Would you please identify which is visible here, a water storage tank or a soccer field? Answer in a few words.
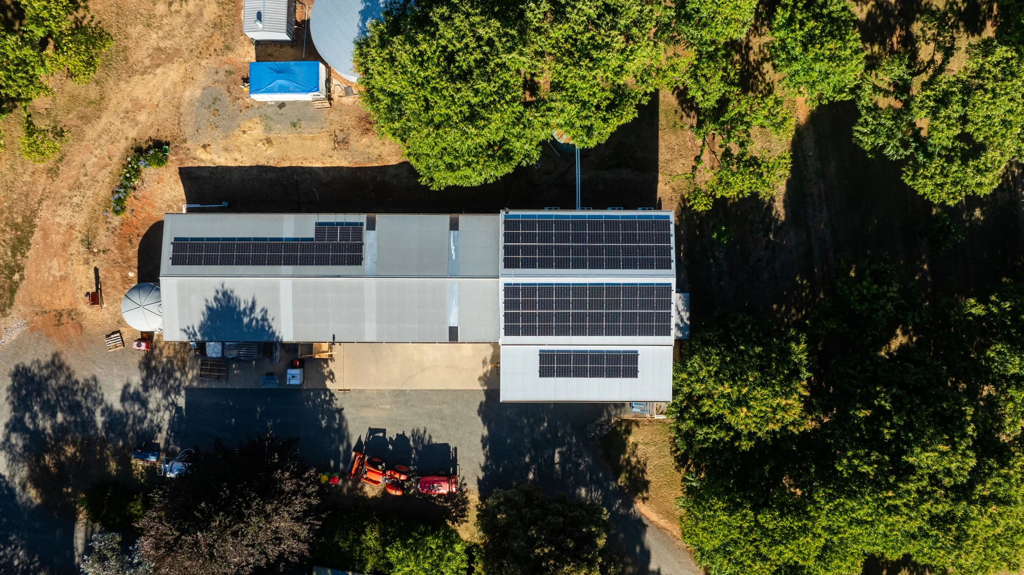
water storage tank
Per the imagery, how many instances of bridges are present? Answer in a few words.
none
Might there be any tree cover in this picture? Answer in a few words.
Yes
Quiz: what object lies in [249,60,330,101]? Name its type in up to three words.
building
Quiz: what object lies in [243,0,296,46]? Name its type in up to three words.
shed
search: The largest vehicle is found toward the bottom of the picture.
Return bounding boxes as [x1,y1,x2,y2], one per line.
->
[347,448,410,493]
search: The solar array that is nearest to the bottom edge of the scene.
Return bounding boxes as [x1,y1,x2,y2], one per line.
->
[537,354,640,378]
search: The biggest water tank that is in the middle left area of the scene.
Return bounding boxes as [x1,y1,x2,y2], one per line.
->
[122,287,162,327]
